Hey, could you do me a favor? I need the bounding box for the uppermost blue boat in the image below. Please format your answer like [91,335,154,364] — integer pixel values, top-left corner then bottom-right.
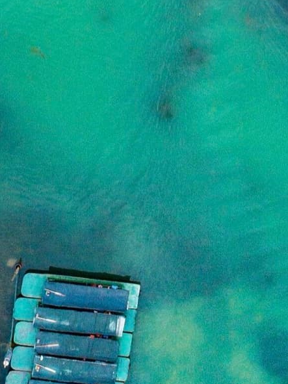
[21,274,140,310]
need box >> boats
[13,322,133,359]
[13,297,138,335]
[11,346,131,384]
[21,274,140,310]
[5,371,126,384]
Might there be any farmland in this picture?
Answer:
No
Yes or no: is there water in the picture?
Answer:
Yes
